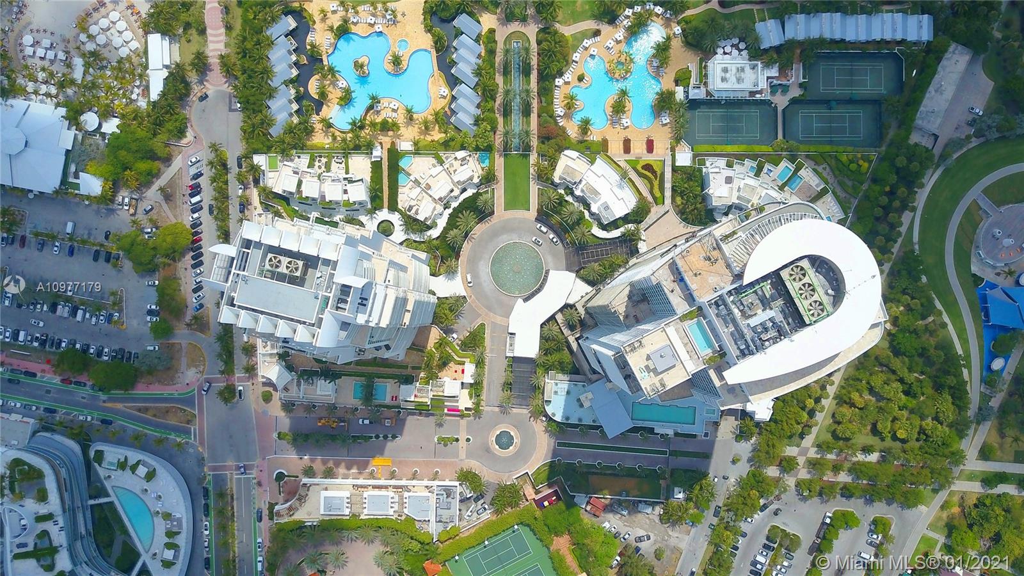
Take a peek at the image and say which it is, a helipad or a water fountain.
water fountain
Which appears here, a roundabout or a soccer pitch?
roundabout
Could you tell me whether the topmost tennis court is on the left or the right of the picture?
right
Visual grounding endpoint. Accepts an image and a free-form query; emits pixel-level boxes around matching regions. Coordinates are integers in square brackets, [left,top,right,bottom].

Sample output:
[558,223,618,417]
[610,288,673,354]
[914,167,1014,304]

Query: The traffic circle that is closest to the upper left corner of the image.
[459,213,563,325]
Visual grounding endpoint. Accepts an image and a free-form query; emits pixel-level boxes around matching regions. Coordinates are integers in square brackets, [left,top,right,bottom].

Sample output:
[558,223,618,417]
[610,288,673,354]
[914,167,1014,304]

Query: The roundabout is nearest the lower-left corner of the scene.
[463,399,547,484]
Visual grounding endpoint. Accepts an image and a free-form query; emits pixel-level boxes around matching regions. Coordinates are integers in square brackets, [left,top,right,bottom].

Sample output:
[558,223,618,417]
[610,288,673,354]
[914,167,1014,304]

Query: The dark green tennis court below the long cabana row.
[805,52,904,99]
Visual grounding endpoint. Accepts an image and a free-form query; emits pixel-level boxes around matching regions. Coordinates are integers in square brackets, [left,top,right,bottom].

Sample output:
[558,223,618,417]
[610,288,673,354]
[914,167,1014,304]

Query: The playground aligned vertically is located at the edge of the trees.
[976,272,1024,389]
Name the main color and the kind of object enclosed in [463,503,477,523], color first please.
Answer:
white vehicle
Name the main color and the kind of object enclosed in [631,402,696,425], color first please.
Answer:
blue swimming pool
